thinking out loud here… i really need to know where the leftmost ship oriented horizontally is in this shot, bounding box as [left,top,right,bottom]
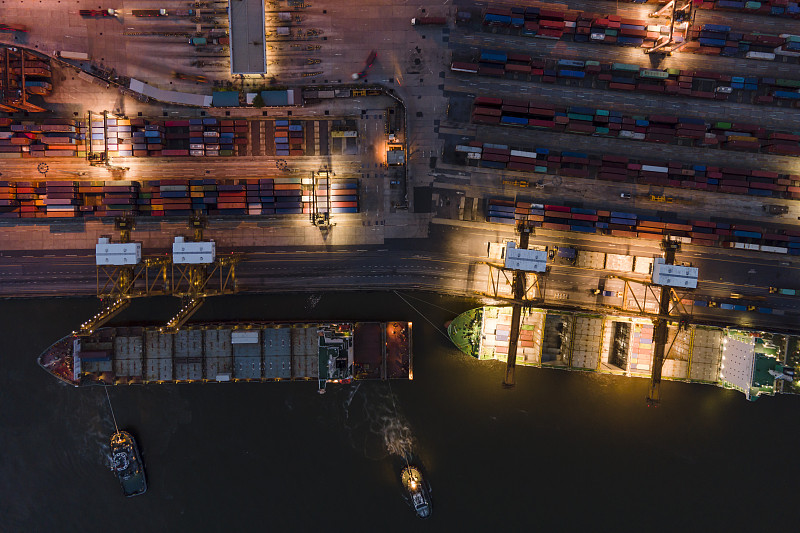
[38,320,413,392]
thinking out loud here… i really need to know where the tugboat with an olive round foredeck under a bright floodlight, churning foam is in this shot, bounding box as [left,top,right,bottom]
[400,458,433,519]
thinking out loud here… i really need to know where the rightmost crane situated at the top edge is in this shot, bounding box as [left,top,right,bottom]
[642,0,693,58]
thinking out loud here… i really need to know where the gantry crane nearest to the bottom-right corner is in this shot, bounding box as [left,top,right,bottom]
[598,234,698,406]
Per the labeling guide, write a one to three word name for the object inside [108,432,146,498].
boat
